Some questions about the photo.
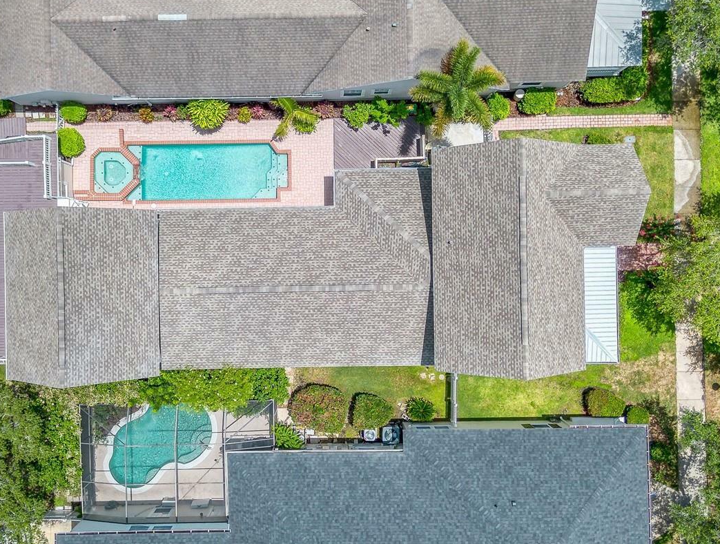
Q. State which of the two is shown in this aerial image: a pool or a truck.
pool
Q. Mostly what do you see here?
buildings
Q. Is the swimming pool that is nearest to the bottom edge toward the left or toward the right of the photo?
left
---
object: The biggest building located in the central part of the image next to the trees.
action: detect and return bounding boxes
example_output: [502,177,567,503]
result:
[3,139,651,387]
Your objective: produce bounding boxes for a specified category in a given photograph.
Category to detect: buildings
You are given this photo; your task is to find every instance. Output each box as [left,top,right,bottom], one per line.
[0,0,666,103]
[3,139,651,387]
[53,416,654,544]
